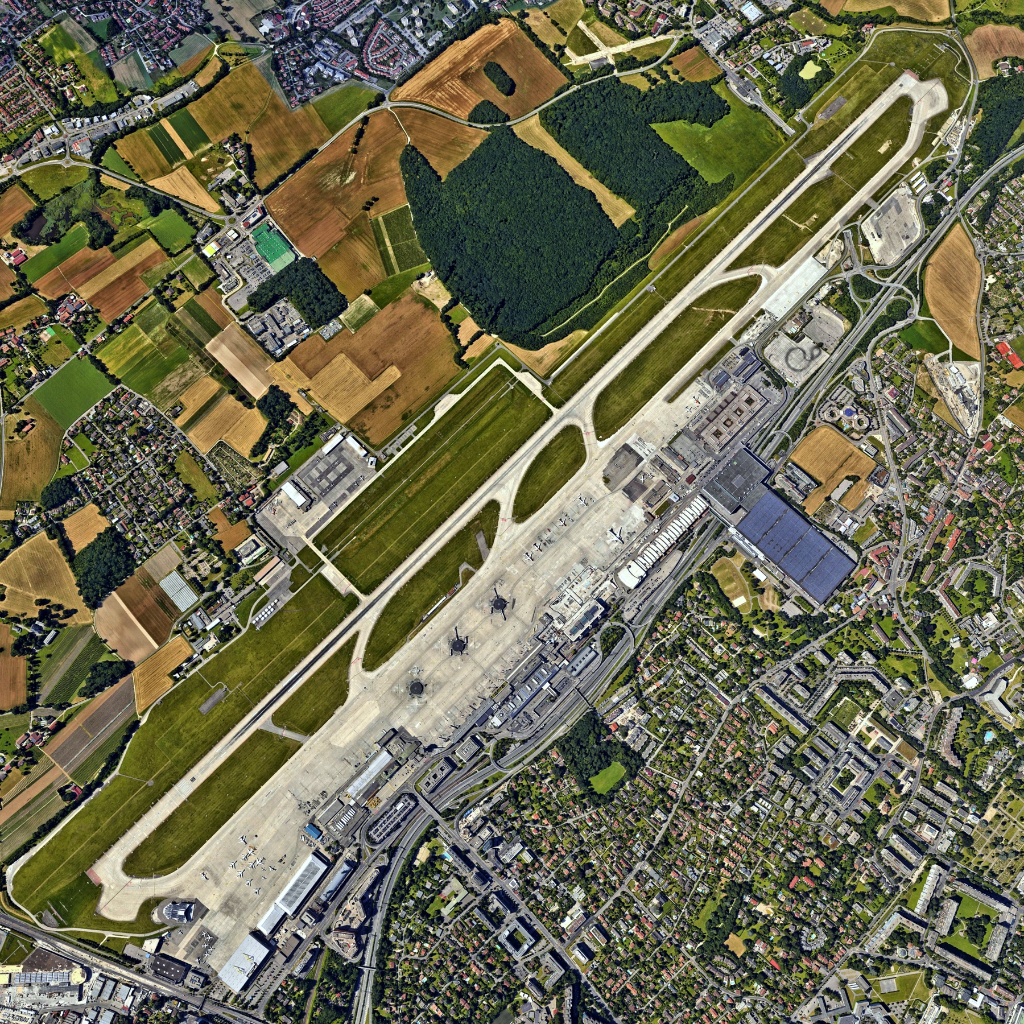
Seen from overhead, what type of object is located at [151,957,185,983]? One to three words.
hangar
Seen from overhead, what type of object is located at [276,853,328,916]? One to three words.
hangar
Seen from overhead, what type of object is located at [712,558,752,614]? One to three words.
sports field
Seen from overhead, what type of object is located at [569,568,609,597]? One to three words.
building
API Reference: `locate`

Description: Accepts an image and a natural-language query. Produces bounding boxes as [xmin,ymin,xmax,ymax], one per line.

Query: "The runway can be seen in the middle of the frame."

[86,67,920,886]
